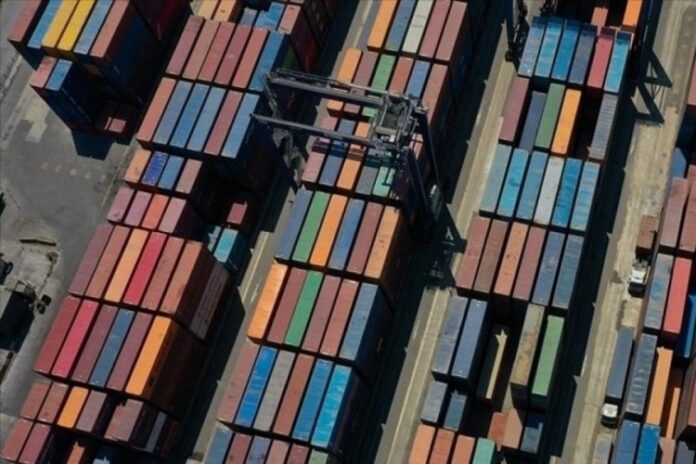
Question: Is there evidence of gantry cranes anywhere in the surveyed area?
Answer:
Yes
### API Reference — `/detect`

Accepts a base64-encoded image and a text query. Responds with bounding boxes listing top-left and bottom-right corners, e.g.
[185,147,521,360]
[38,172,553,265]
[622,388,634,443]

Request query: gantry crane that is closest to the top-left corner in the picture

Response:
[248,71,442,234]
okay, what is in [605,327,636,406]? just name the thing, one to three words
shipping container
